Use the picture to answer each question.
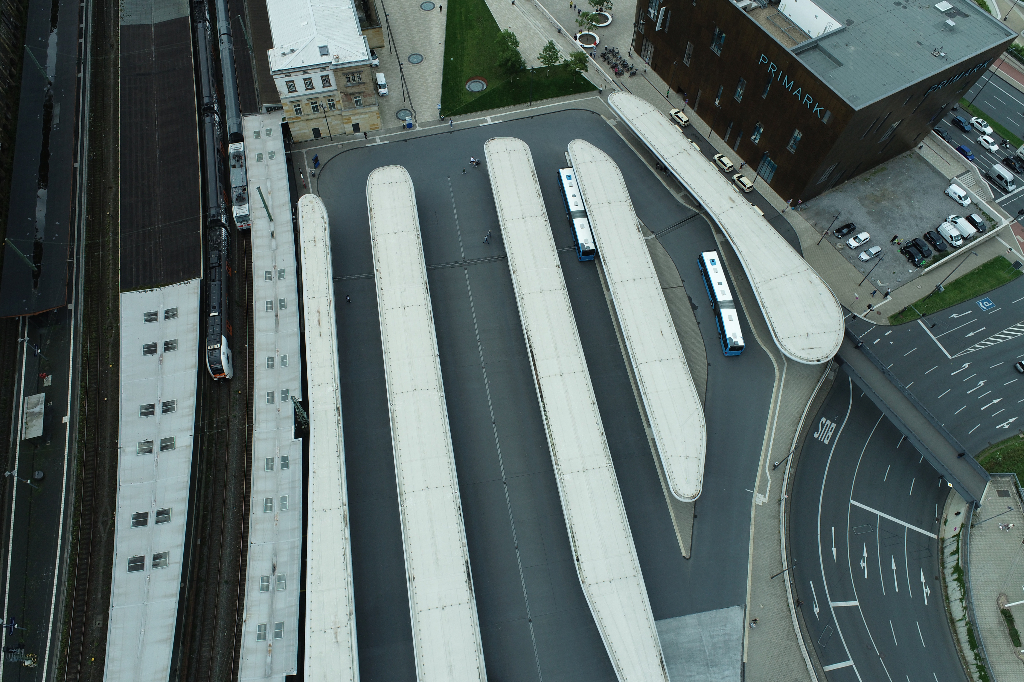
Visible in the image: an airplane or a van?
van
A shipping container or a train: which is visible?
train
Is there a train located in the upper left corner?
Yes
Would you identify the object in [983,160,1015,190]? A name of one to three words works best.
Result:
van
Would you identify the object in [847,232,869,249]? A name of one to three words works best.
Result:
car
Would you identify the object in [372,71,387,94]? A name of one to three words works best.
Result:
vehicle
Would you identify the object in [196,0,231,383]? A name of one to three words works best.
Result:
train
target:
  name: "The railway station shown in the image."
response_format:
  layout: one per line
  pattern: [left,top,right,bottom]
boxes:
[0,0,293,682]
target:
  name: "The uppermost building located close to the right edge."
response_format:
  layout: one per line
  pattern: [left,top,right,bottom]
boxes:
[634,0,1017,203]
